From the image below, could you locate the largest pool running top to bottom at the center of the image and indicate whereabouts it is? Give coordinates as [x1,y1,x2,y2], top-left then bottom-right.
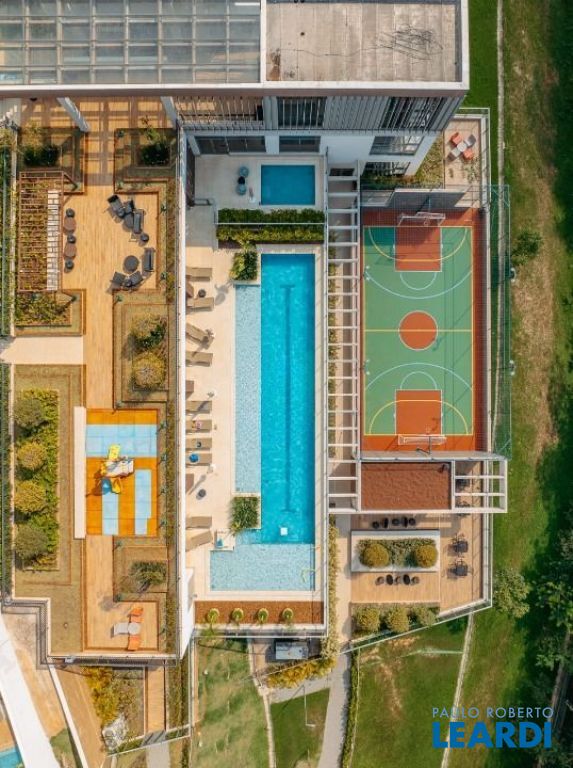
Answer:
[206,250,319,594]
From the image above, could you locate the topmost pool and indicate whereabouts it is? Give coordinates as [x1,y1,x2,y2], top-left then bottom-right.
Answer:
[258,162,318,205]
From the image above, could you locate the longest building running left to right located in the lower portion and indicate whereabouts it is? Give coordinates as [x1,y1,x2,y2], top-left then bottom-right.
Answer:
[325,450,507,514]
